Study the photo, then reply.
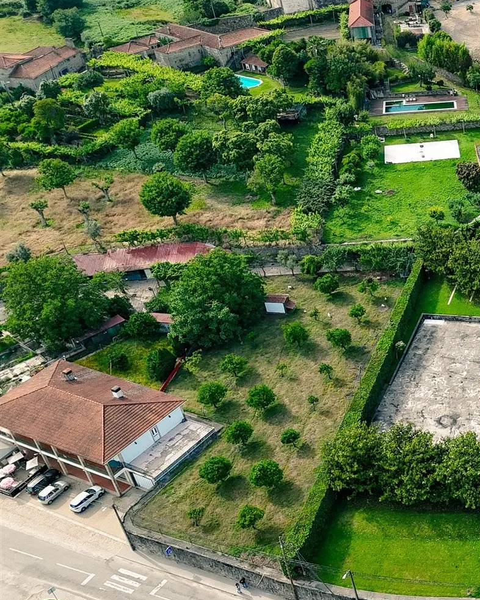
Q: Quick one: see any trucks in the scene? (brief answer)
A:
No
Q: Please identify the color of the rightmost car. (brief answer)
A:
white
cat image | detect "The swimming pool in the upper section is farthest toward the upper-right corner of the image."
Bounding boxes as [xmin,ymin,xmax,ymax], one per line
[383,97,458,112]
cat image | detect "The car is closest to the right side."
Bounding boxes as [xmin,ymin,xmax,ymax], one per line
[62,482,107,514]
